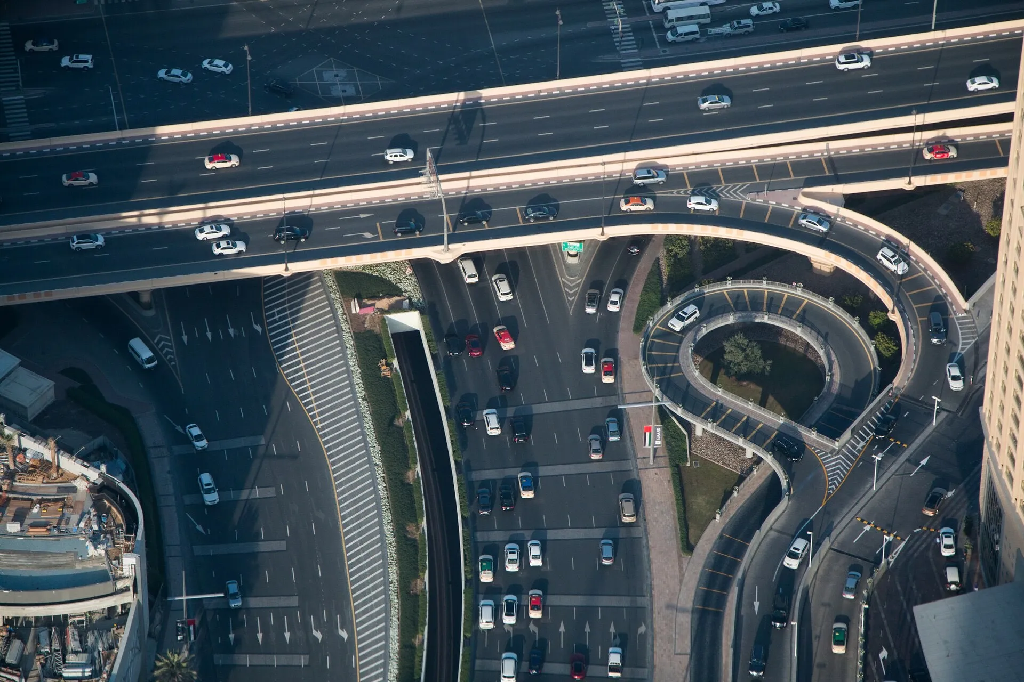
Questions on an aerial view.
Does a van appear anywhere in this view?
Yes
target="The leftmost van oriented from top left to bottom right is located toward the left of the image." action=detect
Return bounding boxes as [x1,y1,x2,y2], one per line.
[128,337,157,370]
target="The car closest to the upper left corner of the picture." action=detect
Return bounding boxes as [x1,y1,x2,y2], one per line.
[25,38,58,53]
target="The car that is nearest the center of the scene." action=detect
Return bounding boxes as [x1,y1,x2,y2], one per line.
[496,326,512,353]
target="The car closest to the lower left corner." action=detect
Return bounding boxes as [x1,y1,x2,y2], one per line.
[225,580,242,610]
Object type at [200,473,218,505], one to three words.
car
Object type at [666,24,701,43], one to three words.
vehicle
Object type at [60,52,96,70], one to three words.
car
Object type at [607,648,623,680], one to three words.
vehicle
